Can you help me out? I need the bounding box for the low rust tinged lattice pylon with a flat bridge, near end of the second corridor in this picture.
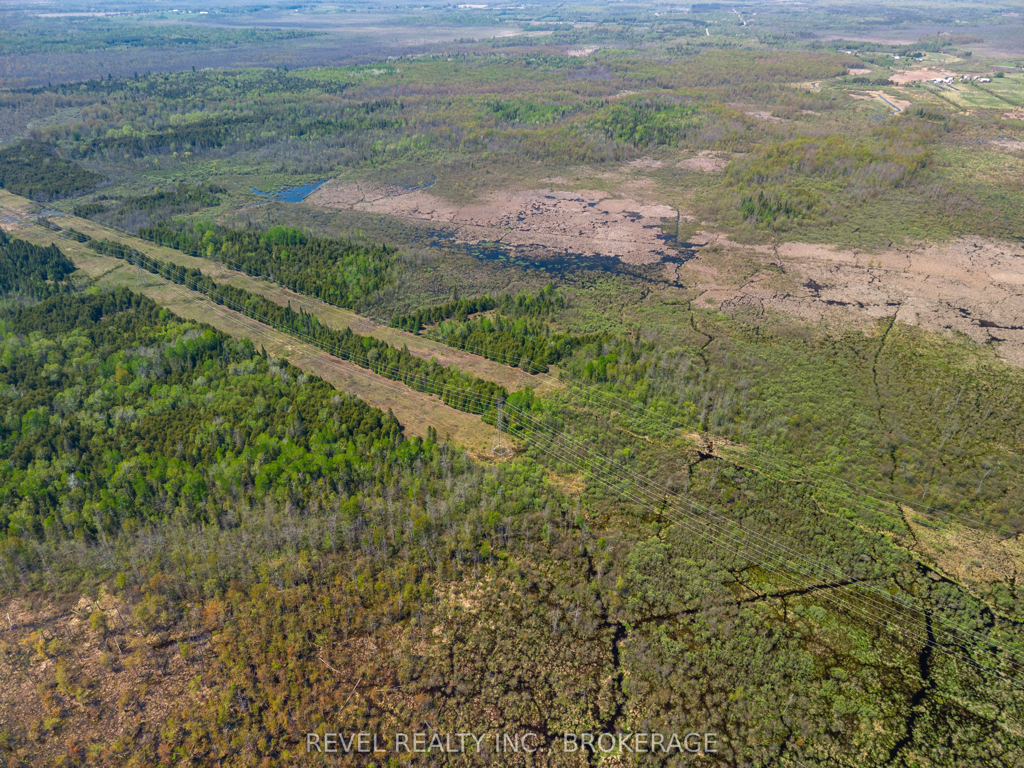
[516,354,532,388]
